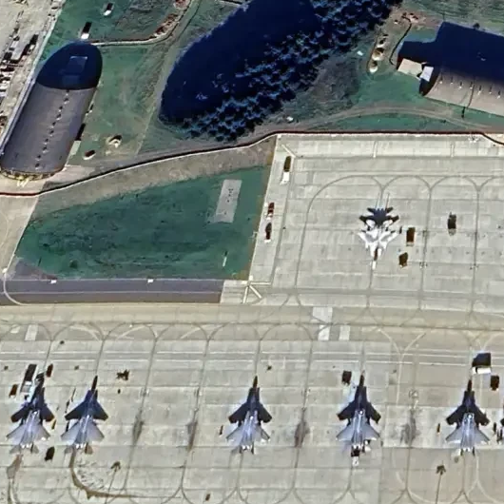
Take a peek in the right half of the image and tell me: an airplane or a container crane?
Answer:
airplane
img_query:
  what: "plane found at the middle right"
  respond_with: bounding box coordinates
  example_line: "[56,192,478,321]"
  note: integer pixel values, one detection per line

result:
[359,210,398,271]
